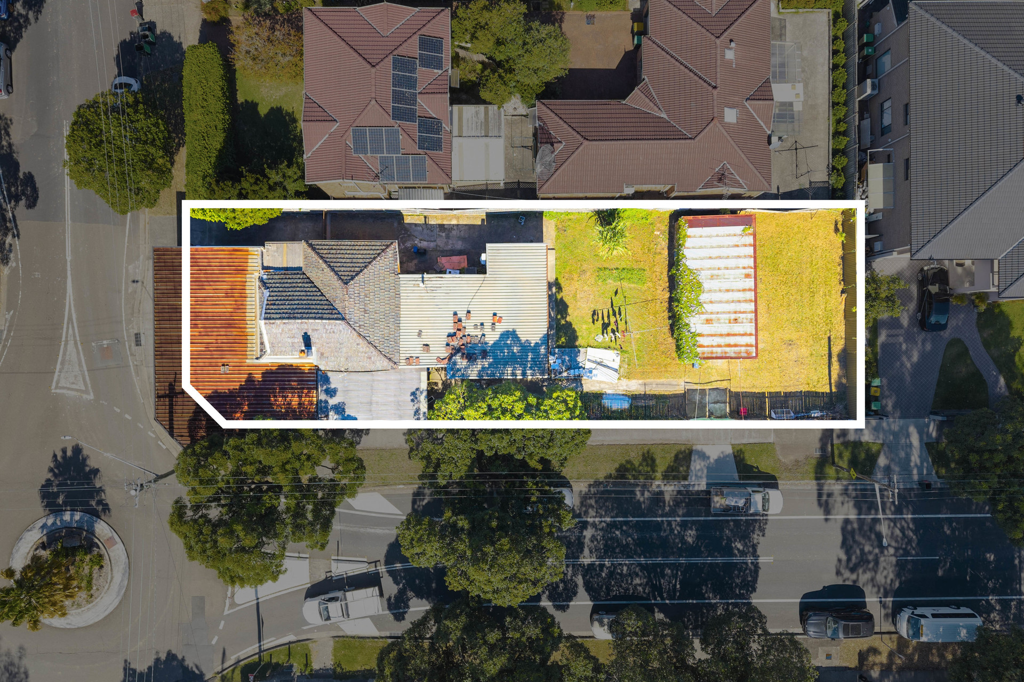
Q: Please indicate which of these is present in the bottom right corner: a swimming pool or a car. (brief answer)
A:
car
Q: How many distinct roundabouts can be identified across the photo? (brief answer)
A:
1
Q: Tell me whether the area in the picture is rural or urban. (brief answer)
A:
urban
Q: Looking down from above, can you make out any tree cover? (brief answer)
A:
Yes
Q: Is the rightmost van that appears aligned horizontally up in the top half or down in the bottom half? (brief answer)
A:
bottom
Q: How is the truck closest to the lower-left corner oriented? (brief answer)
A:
from side to side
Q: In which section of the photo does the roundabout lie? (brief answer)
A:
bottom left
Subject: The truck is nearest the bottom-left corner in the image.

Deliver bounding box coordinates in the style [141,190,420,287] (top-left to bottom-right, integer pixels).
[302,582,386,624]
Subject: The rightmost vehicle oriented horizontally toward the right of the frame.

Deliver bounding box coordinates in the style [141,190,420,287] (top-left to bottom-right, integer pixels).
[889,603,985,641]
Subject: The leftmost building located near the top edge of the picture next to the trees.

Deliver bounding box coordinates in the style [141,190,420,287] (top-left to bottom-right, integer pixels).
[301,1,453,198]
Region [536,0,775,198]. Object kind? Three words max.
house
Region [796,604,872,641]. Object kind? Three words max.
car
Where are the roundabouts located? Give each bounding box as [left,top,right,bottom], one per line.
[10,510,129,629]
